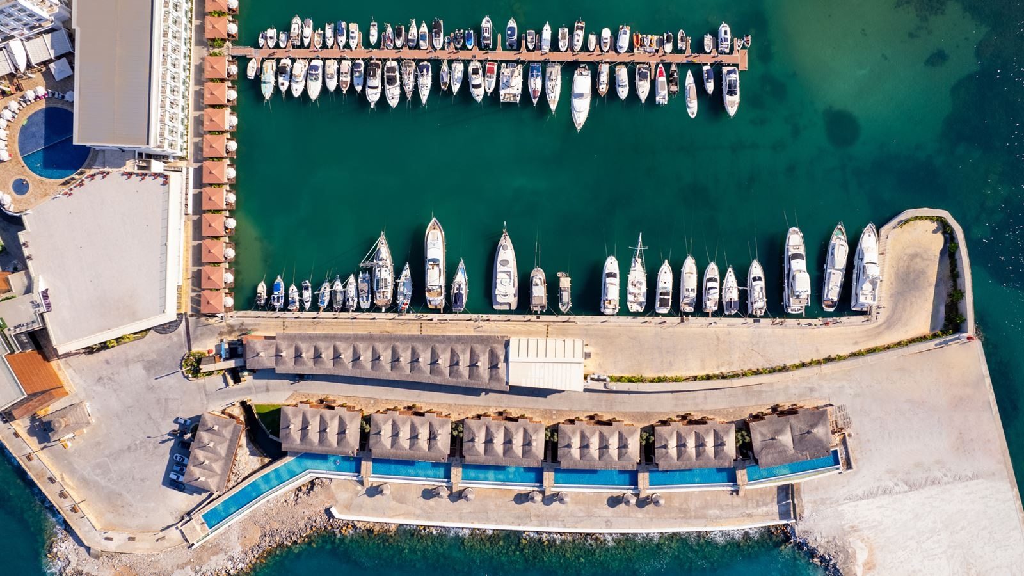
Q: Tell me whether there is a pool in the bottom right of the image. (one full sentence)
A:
Yes, you'll find a pool in the bottom right of the image.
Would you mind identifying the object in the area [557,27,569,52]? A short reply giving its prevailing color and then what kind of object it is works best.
white boat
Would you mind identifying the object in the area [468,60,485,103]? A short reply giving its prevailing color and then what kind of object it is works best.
white boat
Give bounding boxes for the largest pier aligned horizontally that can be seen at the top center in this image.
[253,32,747,80]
